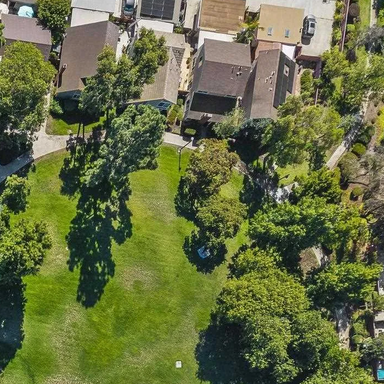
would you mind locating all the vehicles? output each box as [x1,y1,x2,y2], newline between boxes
[303,11,318,37]
[122,0,136,14]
